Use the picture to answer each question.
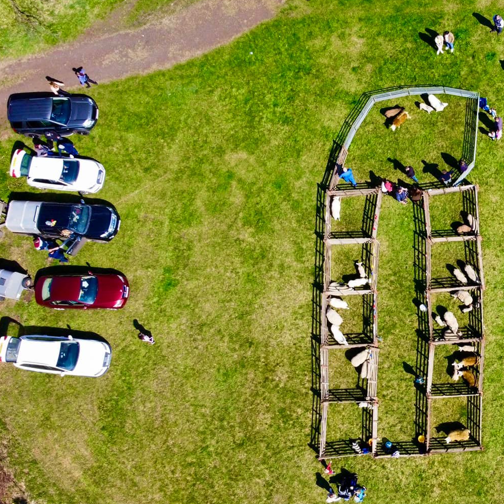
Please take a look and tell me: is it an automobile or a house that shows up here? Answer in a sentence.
The one in the frame is an automobile.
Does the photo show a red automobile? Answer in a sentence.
Yes, this view includes a red automobile.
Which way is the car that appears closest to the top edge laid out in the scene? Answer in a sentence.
In this picture, the car that appears closest to the top edge lies from side to side.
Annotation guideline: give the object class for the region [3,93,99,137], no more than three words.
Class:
car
